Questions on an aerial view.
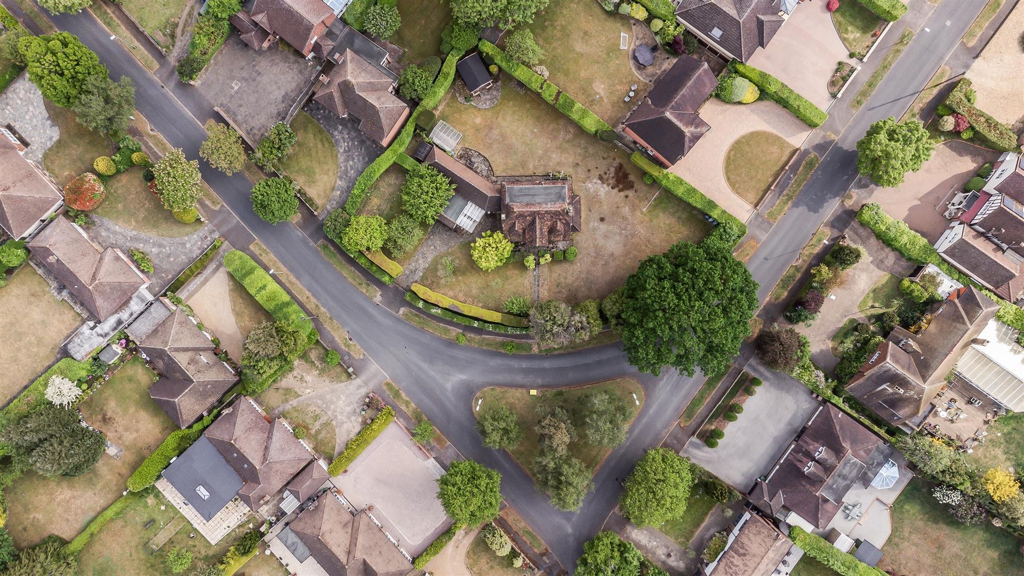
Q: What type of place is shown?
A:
residential area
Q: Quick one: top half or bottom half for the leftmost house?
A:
top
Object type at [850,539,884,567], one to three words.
shed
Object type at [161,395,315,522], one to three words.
house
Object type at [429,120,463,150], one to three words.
greenhouse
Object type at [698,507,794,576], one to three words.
house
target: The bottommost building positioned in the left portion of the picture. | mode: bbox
[277,488,414,576]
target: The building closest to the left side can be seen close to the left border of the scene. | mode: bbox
[0,123,75,241]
